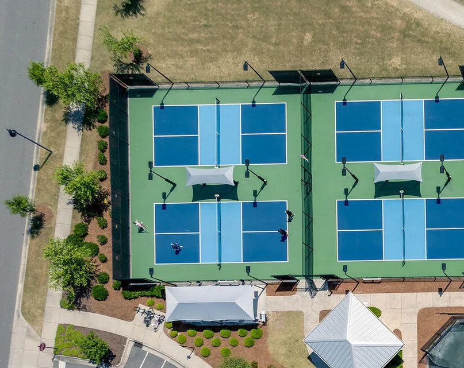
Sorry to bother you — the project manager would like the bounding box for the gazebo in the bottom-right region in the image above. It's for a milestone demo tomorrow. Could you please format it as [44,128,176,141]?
[303,292,406,368]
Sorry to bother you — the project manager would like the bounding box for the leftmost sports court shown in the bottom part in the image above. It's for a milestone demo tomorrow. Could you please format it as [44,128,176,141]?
[129,183,313,282]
